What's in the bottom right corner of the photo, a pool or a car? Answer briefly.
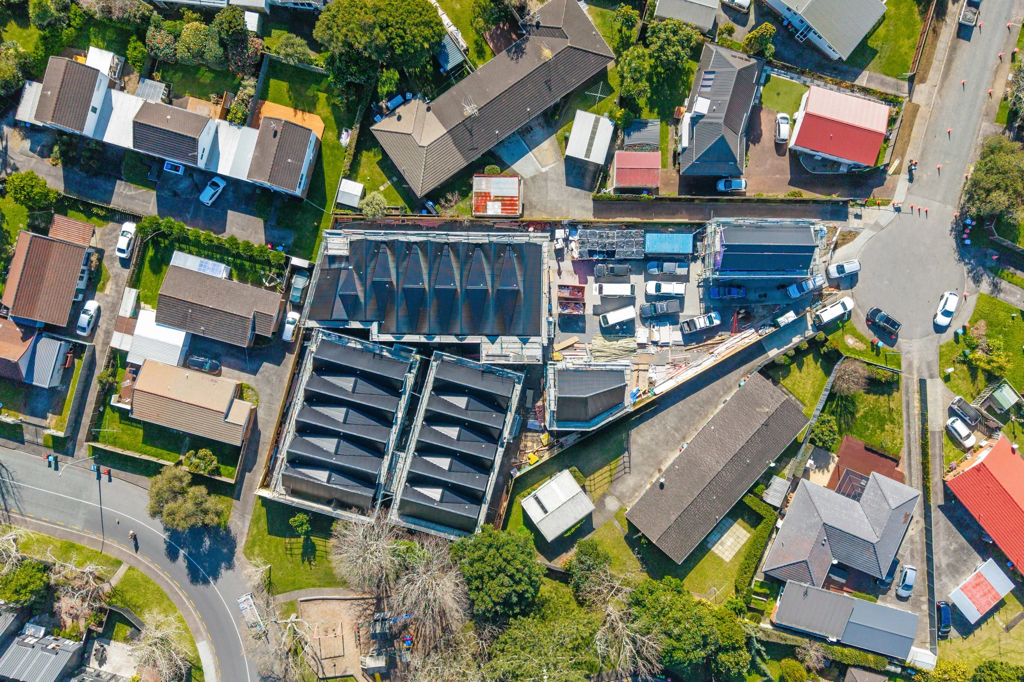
car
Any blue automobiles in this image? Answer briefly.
Yes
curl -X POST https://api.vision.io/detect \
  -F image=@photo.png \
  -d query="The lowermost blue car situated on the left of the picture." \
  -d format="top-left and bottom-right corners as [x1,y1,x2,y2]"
[185,355,222,374]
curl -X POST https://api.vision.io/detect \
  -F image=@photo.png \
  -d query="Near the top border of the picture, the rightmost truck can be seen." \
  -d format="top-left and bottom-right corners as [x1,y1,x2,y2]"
[956,0,985,26]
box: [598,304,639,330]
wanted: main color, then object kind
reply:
white vehicle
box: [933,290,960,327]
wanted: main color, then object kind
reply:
white car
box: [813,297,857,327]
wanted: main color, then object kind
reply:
white car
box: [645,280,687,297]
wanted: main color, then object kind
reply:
white vehicle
